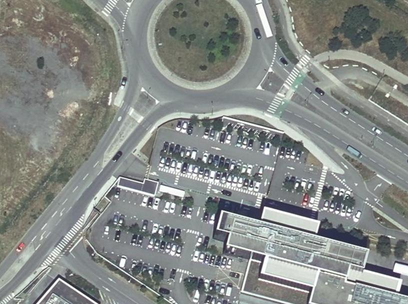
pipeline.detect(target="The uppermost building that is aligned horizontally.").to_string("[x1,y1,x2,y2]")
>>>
[118,178,158,196]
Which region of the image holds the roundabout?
top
